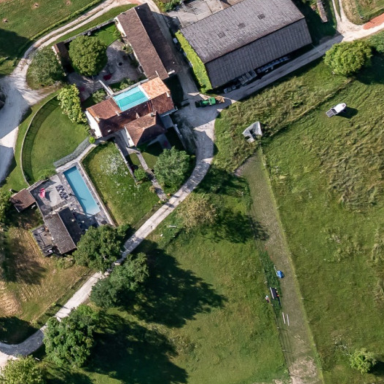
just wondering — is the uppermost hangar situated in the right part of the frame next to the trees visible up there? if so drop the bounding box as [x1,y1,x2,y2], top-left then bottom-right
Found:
[178,0,312,89]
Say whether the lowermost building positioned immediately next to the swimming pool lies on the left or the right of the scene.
left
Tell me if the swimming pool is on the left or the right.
left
